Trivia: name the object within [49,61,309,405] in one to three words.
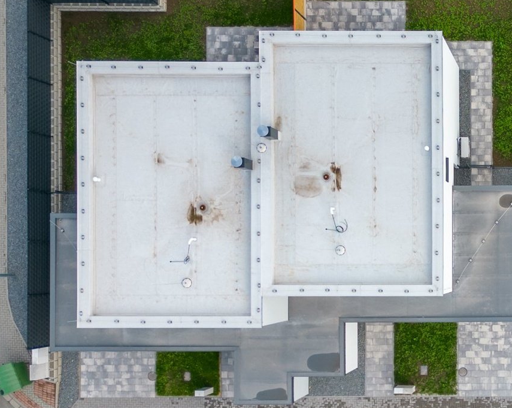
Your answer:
house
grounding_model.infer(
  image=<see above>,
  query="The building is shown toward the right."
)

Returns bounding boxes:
[252,31,512,377]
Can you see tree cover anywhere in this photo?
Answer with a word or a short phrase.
No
